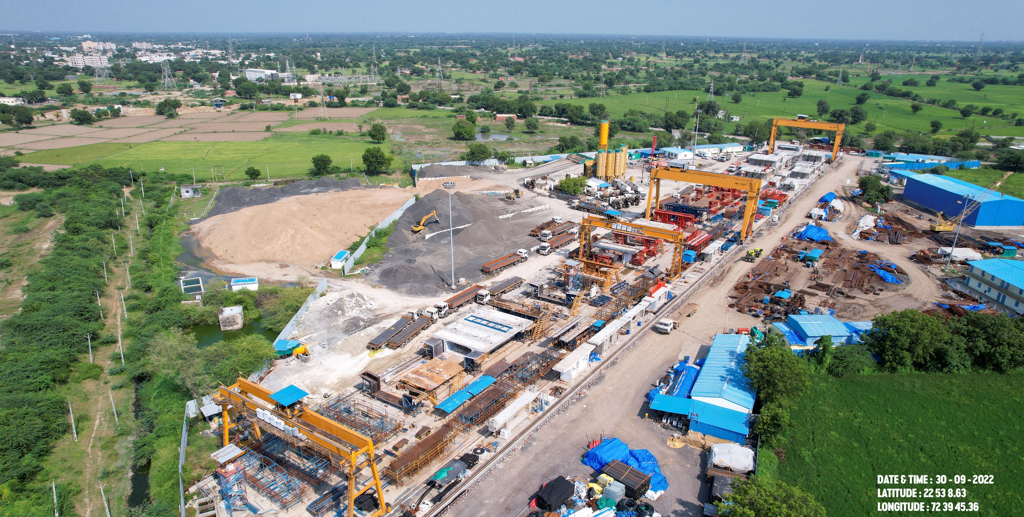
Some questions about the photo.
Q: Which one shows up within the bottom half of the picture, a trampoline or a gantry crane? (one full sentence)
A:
There is a gantry crane within the bottom half of the picture.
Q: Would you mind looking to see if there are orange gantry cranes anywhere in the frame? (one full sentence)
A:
Yes, this view includes an orange gantry crane.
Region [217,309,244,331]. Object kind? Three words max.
water tank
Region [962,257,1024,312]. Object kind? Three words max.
building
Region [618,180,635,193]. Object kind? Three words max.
vehicle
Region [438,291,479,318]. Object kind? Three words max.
truck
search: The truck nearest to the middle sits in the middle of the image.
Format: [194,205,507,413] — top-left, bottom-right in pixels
[488,251,529,272]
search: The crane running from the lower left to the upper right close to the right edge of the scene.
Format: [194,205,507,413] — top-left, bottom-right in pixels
[929,171,1011,232]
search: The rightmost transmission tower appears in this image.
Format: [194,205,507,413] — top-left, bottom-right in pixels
[975,35,987,69]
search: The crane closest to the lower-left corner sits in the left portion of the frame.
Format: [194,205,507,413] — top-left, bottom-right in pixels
[207,381,397,517]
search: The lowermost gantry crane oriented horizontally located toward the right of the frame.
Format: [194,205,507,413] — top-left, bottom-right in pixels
[574,211,687,277]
